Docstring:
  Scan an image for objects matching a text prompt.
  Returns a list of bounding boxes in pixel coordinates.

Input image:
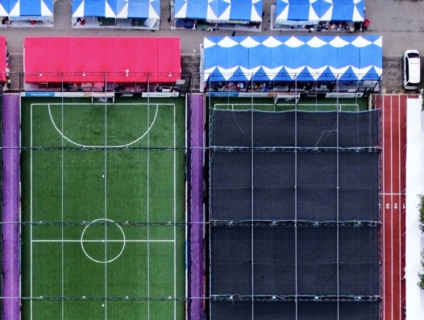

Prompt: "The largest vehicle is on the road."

[403,53,422,89]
